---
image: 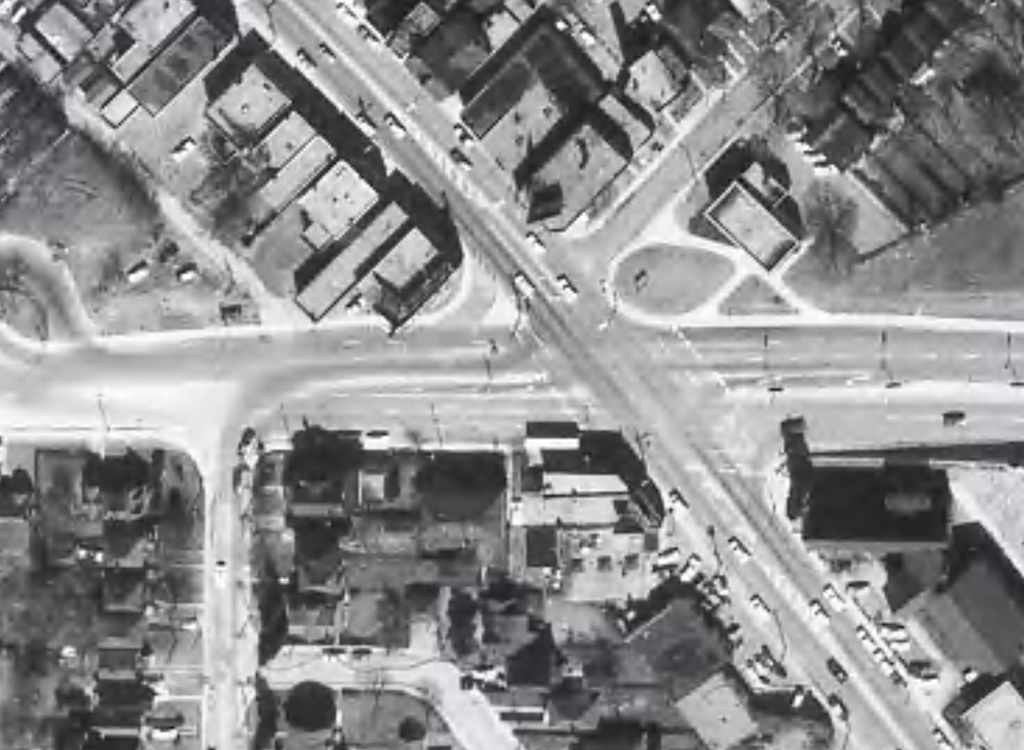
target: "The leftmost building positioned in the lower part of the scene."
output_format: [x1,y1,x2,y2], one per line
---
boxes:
[0,518,31,560]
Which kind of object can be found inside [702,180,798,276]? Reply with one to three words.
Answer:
gas station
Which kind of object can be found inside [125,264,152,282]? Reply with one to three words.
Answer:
car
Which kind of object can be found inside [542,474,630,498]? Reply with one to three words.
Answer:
building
